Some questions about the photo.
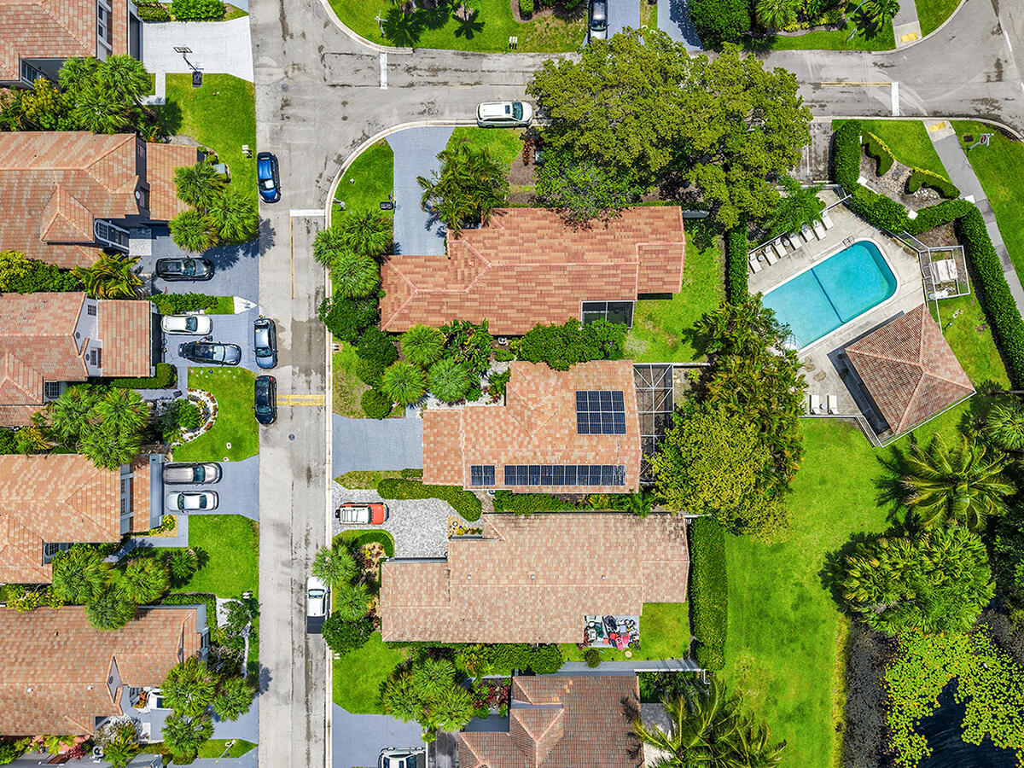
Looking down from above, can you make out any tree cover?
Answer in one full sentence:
Yes, some tree cover is visible.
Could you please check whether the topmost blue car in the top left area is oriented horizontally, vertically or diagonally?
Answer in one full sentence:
The topmost blue car in the top left area runs vertically in the image.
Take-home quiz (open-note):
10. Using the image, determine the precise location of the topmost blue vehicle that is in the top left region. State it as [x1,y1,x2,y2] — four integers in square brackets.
[256,153,281,204]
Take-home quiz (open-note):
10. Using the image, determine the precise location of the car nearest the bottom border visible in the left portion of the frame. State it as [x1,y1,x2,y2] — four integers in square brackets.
[378,748,428,768]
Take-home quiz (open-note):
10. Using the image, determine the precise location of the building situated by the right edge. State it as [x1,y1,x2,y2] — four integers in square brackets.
[834,302,977,437]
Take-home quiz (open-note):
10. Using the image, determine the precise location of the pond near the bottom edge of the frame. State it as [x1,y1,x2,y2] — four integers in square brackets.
[872,622,1024,768]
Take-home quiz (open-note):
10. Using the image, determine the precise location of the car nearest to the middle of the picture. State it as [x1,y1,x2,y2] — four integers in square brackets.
[338,502,391,527]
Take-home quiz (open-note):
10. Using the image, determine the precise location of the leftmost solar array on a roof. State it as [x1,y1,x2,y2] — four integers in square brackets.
[470,466,495,486]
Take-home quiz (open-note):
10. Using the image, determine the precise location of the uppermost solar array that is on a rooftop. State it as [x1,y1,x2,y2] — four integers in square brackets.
[576,391,625,434]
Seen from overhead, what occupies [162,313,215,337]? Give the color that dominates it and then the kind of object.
white car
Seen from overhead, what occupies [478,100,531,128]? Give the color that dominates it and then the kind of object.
white car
